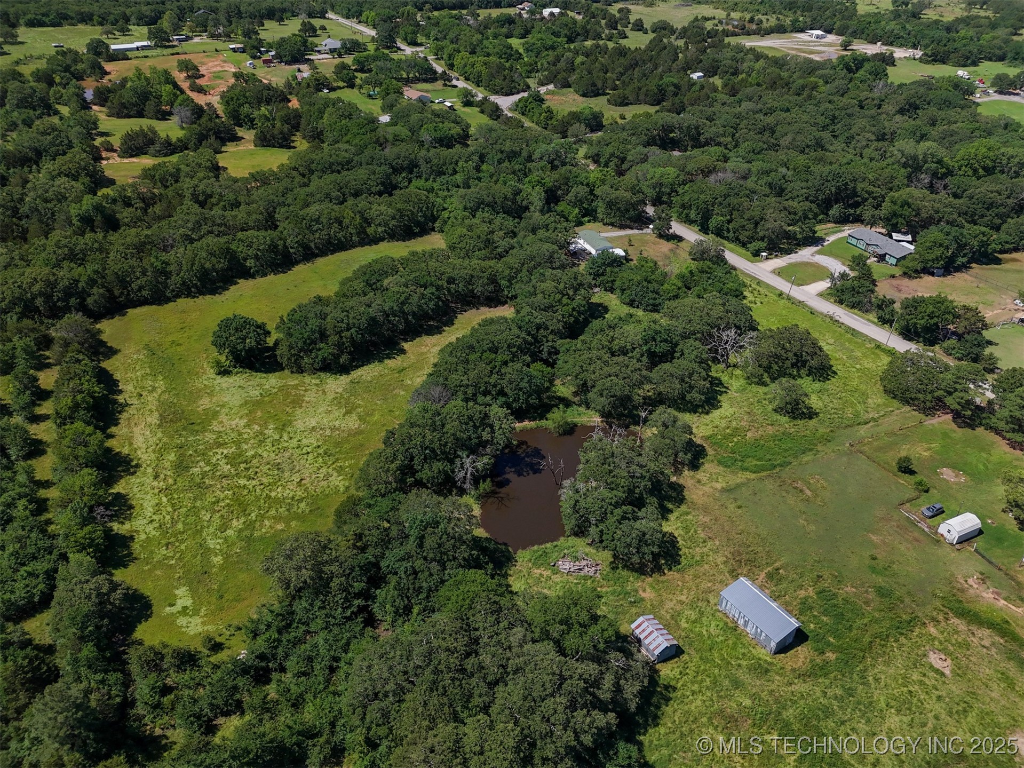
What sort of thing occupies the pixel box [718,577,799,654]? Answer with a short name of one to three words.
barn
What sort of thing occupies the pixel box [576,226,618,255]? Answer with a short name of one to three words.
house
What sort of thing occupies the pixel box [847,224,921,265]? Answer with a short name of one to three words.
building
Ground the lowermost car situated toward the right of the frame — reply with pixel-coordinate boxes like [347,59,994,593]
[923,503,944,520]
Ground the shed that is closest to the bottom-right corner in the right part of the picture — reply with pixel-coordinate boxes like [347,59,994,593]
[938,508,985,544]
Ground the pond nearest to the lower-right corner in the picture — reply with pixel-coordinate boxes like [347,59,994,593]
[474,426,640,551]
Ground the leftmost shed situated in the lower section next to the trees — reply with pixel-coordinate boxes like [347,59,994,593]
[632,615,678,662]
